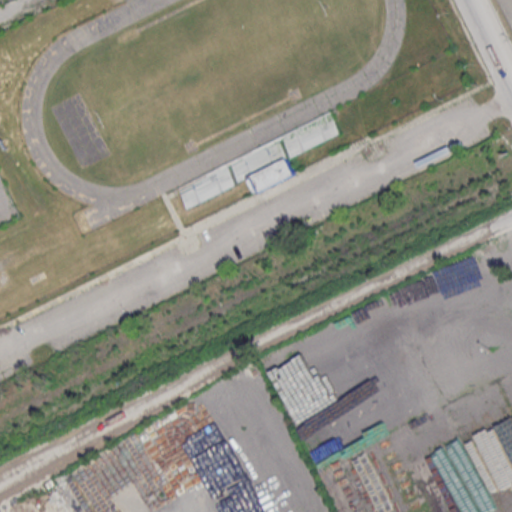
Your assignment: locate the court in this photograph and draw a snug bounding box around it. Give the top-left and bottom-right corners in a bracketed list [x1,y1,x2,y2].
[52,94,110,168]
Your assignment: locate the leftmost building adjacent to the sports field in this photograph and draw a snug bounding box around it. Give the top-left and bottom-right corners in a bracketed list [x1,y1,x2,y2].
[179,164,240,208]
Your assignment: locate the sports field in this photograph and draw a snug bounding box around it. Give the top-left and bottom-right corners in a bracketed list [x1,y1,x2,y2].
[42,0,384,186]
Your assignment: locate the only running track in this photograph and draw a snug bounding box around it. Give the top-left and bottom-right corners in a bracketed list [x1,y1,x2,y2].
[20,0,406,230]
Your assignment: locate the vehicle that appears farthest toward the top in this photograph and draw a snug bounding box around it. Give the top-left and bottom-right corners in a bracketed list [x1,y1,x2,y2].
[488,45,506,75]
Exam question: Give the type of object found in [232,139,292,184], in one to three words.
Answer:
building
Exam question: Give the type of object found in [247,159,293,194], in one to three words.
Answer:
building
